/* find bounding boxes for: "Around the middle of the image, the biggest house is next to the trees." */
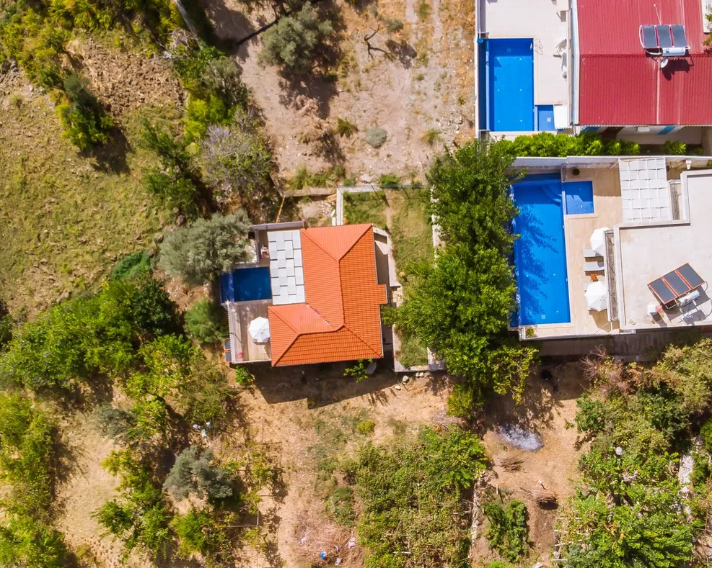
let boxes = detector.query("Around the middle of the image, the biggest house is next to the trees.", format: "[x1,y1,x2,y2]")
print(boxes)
[268,223,388,366]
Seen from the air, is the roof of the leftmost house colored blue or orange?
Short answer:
orange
